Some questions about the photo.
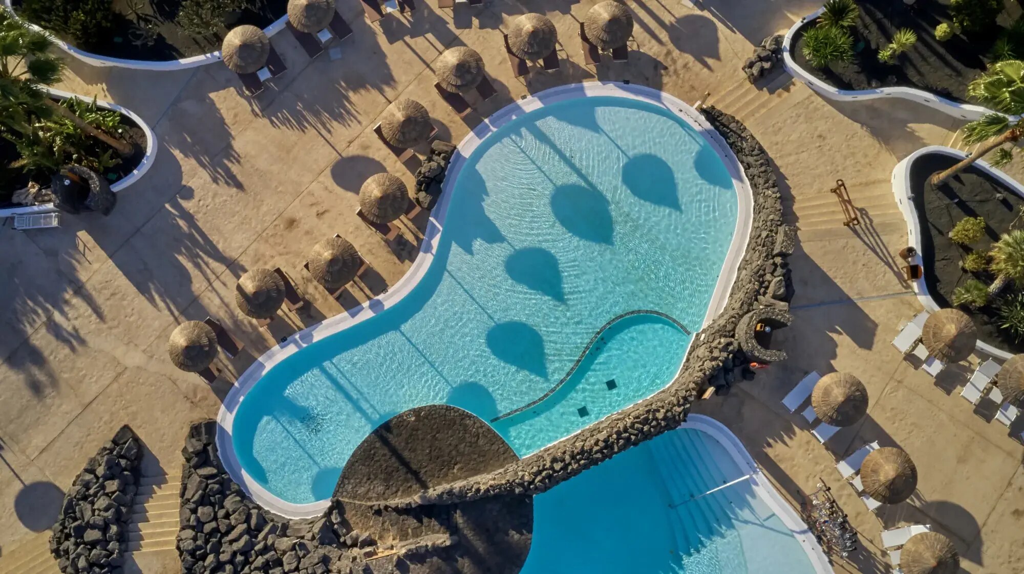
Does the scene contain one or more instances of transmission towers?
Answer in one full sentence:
No, there is no transmission tower in the image.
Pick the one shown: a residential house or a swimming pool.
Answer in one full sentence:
Looking from above, you can make out a swimming pool.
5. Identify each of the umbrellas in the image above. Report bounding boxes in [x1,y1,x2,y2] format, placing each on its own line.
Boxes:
[220,23,274,76]
[310,235,364,289]
[582,0,636,51]
[379,98,434,152]
[916,305,977,365]
[435,44,488,97]
[358,171,412,225]
[986,349,1024,410]
[897,523,959,574]
[854,446,916,506]
[235,267,290,321]
[807,367,869,428]
[166,319,220,372]
[286,0,340,36]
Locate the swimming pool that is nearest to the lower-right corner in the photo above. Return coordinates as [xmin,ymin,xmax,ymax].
[520,425,816,574]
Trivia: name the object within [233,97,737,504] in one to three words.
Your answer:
swimming pool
